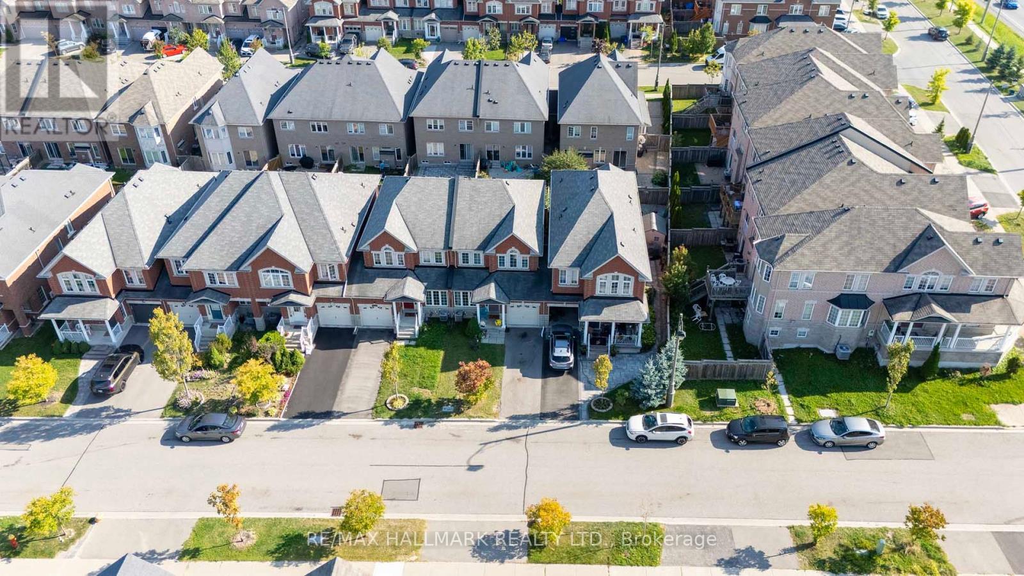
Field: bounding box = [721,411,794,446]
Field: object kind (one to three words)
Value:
car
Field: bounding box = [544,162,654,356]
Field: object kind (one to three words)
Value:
house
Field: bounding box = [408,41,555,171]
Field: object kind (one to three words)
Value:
house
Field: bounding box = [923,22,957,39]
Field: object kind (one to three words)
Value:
car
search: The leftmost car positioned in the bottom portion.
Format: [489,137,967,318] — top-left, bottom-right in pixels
[89,334,144,383]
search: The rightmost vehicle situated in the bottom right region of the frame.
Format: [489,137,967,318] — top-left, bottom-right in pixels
[806,413,889,448]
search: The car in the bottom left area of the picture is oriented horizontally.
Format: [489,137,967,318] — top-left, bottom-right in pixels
[174,408,252,442]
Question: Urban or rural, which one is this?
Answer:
urban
